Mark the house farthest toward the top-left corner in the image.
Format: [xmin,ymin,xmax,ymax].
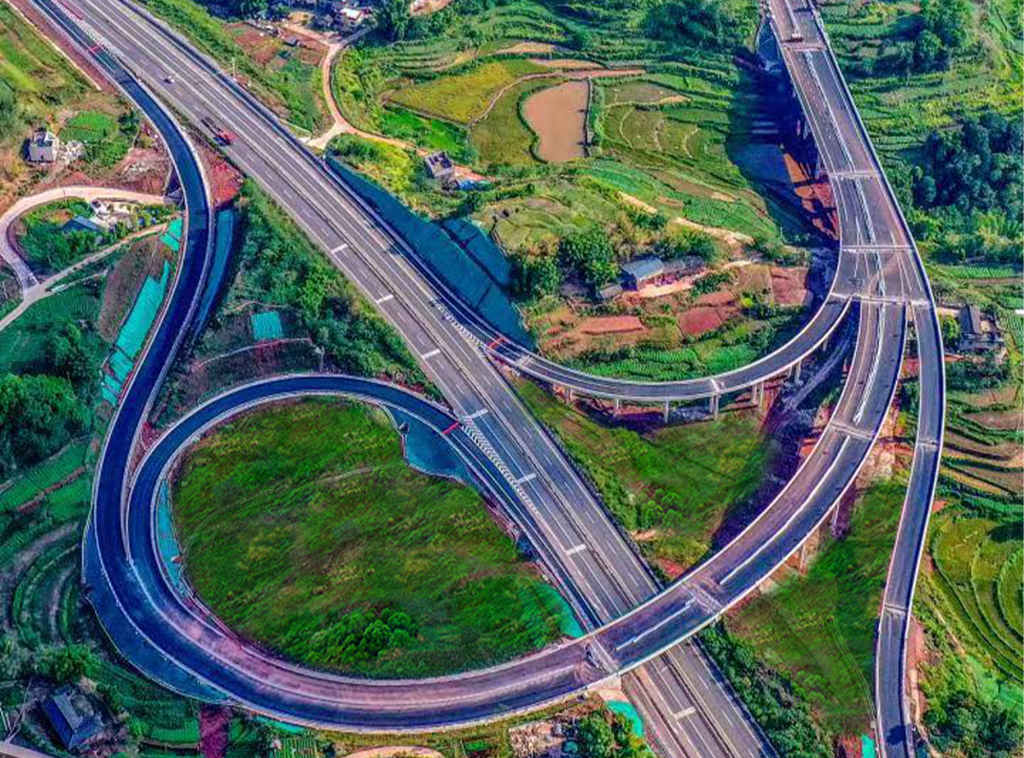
[27,133,56,158]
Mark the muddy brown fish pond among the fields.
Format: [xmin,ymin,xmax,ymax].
[523,80,589,161]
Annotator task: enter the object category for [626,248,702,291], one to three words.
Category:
house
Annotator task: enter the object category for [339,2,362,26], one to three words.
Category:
house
